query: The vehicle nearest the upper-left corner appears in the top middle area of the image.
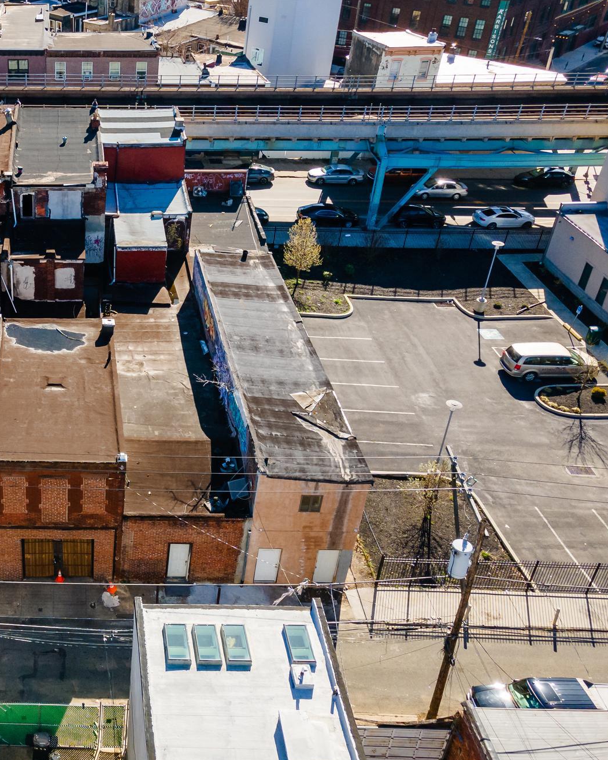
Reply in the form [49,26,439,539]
[216,159,275,184]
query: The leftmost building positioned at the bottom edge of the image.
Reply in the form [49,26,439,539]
[126,596,371,760]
